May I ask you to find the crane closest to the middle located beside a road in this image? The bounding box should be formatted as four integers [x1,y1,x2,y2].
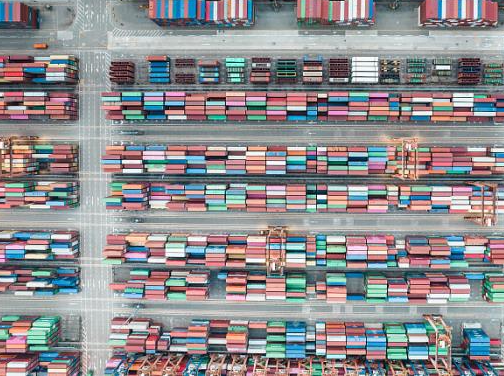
[266,222,286,276]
